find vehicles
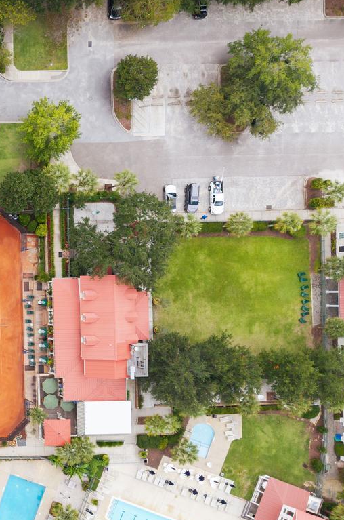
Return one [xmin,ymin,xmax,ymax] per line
[183,183,200,212]
[207,180,225,215]
[193,0,209,20]
[107,0,120,19]
[162,184,178,207]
